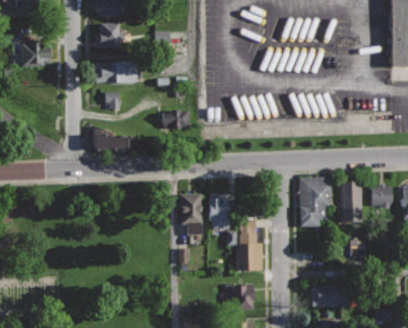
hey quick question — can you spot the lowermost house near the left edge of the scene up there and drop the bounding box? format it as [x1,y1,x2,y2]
[14,42,51,68]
